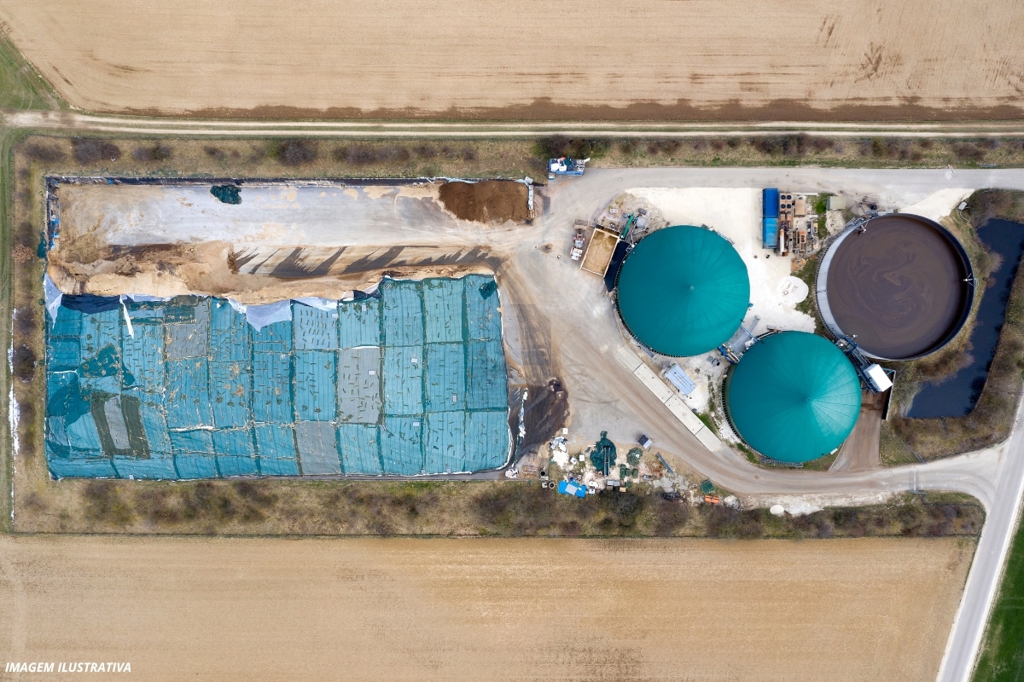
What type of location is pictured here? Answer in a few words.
industrial area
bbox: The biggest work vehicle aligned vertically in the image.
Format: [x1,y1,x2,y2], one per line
[570,220,585,260]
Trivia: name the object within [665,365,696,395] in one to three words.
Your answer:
shed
